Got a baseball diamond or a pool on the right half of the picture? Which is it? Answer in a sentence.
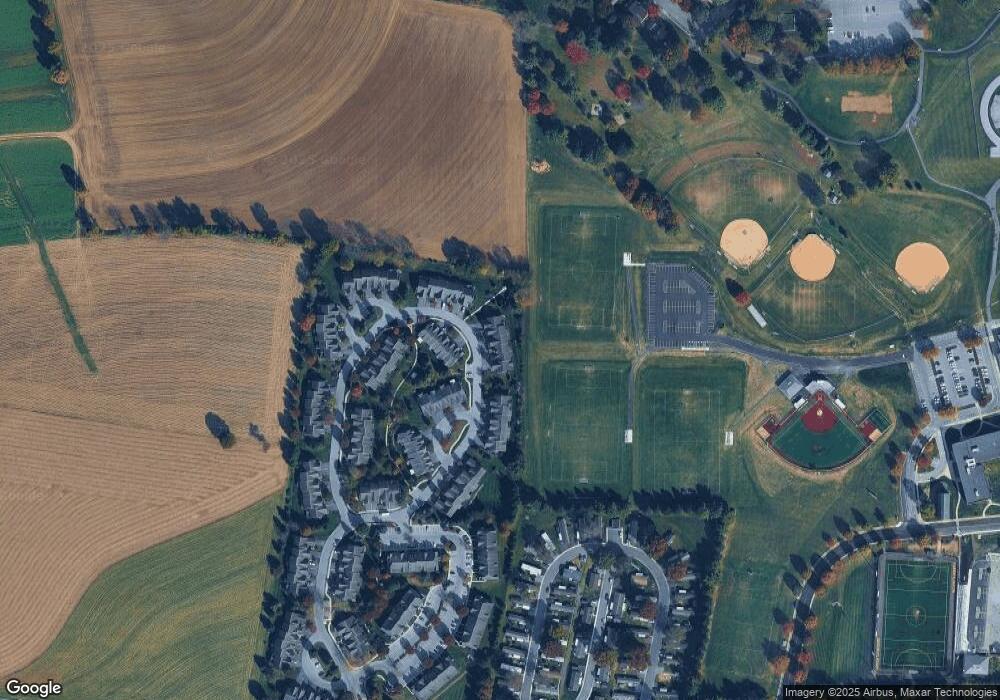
The one visible on the right half of the picture is a baseball diamond.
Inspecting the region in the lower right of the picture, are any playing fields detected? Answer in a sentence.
Yes, a playing field is visible in the lower right of the picture.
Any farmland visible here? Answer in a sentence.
Yes, some farmland is visible.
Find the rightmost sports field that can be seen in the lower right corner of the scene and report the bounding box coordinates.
[872,552,958,676]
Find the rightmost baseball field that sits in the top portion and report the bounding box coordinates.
[895,238,974,295]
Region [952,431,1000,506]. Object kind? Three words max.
building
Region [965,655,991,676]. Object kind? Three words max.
building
